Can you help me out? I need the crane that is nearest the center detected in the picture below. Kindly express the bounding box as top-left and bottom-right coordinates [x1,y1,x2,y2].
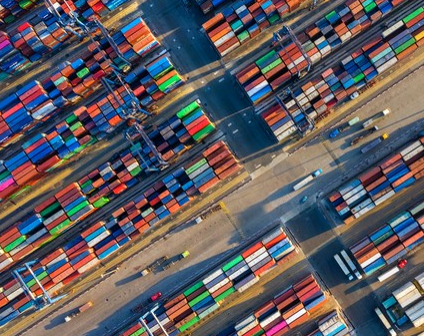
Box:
[124,125,175,175]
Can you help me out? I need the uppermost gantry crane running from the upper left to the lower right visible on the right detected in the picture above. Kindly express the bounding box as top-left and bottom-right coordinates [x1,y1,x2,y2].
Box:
[271,26,314,83]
